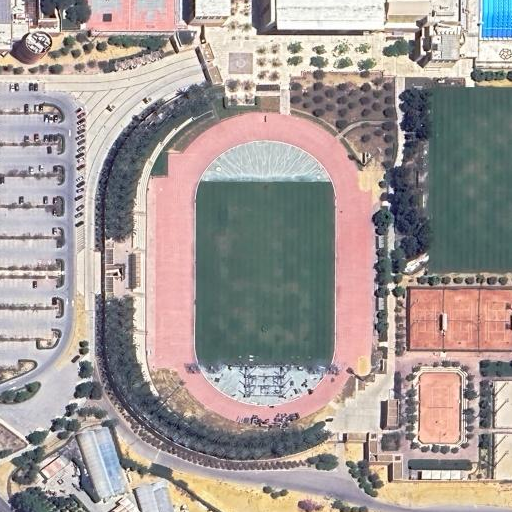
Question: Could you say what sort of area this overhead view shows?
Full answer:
The area seen from above is a sports ground.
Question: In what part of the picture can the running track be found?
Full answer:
The running track is in the center part of the image.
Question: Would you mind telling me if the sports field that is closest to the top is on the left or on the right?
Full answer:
It is on the right.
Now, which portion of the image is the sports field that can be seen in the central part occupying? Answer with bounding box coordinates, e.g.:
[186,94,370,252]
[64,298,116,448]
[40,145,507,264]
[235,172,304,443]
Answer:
[196,182,334,364]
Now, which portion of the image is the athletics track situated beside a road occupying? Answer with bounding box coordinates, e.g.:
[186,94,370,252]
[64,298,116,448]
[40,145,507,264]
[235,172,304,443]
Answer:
[147,112,372,424]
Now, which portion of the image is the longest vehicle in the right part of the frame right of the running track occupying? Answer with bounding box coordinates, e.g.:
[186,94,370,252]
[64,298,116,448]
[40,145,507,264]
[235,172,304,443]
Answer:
[404,257,428,273]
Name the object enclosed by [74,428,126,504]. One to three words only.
building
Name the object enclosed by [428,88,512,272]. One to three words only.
sports field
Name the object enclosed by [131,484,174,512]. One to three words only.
building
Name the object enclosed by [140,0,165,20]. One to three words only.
basketball court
